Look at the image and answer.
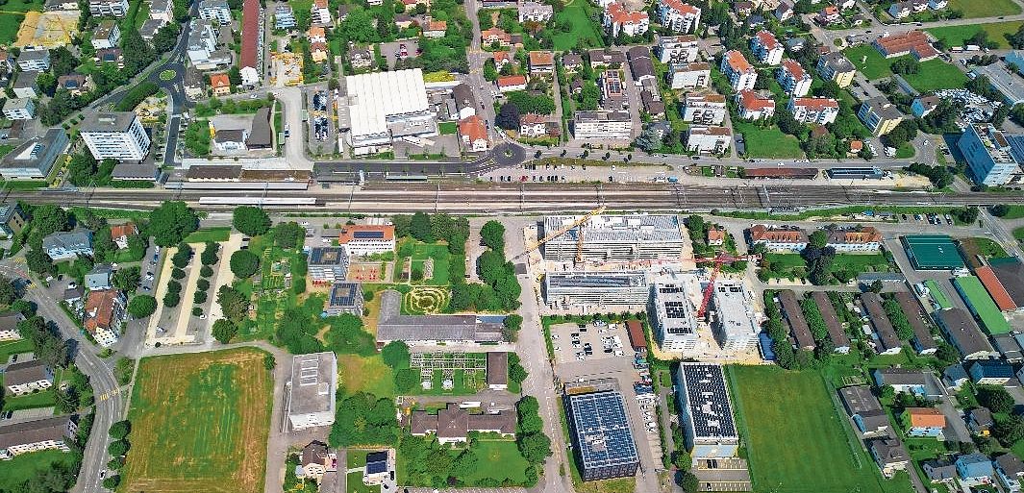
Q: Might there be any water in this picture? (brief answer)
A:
No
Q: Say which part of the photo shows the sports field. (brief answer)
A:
bottom right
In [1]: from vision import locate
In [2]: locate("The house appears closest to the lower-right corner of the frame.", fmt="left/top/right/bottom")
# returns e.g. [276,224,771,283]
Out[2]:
[991,454,1024,485]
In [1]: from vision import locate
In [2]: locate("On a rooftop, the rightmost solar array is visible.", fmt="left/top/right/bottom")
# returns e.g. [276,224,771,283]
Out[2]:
[1001,136,1024,172]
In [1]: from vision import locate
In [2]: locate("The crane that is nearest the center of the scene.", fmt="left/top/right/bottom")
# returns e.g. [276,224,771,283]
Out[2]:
[519,206,606,266]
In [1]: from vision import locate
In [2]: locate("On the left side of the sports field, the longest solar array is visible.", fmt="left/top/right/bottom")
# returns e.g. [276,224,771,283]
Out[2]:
[683,366,735,435]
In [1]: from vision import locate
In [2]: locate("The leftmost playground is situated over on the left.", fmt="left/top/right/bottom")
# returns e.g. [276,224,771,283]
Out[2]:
[297,272,334,306]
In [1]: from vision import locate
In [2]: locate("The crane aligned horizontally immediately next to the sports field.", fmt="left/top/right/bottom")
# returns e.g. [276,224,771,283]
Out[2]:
[604,253,760,322]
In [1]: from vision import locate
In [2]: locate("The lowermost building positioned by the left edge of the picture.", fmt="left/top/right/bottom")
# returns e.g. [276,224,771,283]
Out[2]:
[0,413,77,458]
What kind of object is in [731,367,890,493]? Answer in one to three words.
sports field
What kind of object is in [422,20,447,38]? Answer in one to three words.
house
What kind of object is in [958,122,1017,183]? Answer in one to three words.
building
